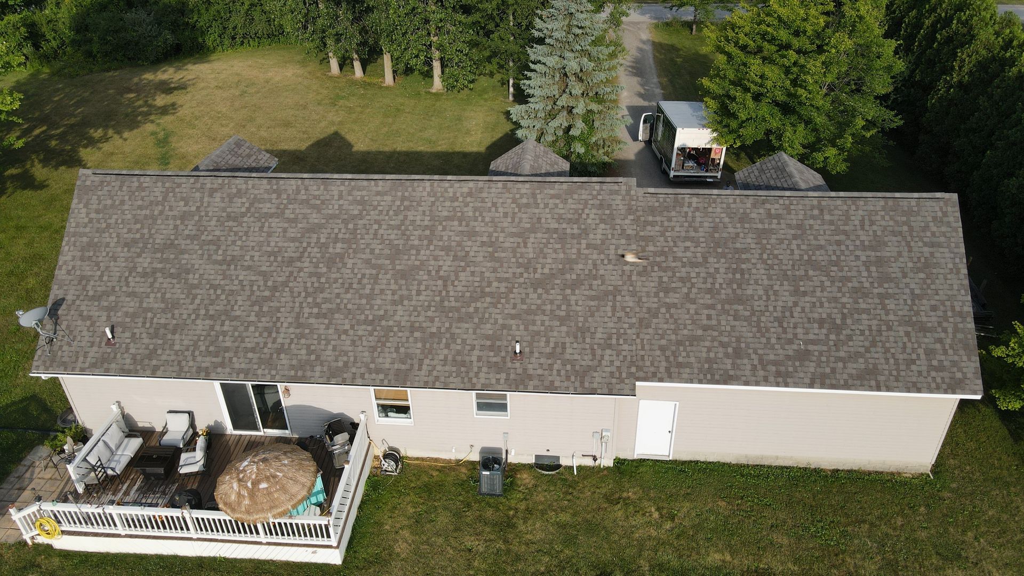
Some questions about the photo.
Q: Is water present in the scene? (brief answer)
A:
No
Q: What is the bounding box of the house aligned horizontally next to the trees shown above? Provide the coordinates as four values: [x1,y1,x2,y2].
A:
[28,135,983,478]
